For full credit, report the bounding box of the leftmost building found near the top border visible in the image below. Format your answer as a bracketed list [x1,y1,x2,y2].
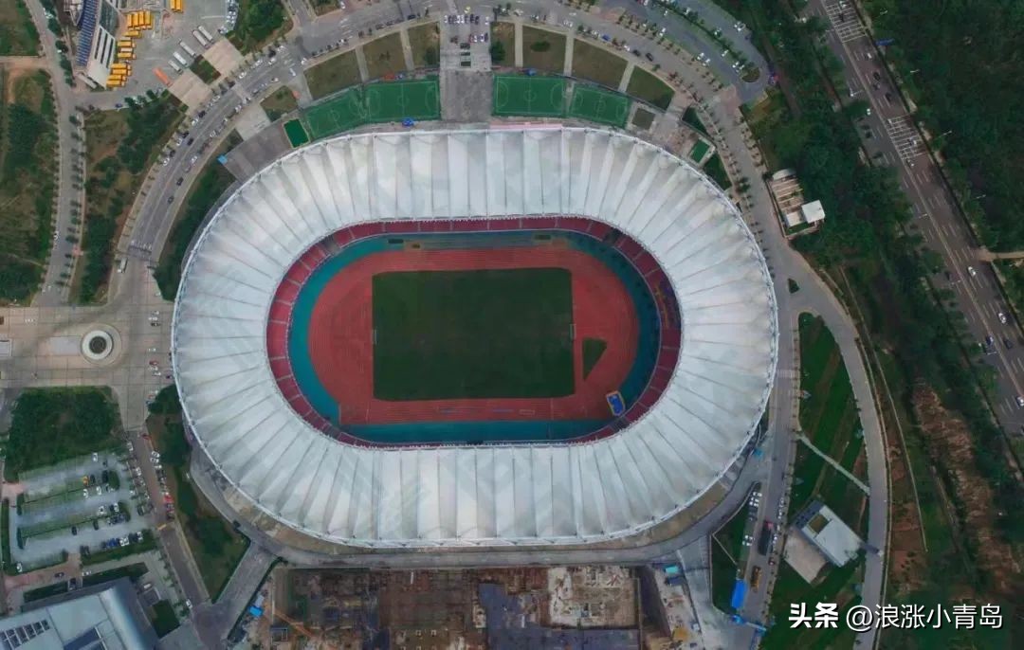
[64,0,129,96]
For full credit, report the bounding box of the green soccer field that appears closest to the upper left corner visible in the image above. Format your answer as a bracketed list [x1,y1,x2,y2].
[304,85,367,139]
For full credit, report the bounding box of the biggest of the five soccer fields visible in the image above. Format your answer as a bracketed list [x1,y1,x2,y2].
[370,268,579,402]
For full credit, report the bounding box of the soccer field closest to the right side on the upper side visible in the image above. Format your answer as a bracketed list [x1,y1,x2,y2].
[568,81,632,129]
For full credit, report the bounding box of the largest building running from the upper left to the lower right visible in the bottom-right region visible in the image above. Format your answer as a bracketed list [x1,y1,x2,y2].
[791,499,862,567]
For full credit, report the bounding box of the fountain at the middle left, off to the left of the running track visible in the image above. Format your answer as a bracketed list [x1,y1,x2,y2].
[79,323,123,366]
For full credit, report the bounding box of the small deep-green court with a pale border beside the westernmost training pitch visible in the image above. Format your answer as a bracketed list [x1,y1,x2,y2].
[282,117,310,148]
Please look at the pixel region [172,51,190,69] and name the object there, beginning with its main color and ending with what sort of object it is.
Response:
white vehicle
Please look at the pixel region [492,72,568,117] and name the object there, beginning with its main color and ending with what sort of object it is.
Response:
green soccer field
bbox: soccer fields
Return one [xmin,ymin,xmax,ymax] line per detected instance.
[492,72,568,117]
[304,85,367,139]
[568,81,632,129]
[363,74,440,123]
[370,268,579,402]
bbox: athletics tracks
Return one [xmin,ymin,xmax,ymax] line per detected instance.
[289,231,658,446]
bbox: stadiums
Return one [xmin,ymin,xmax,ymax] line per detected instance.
[171,126,779,551]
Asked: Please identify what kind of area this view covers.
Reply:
sports ground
